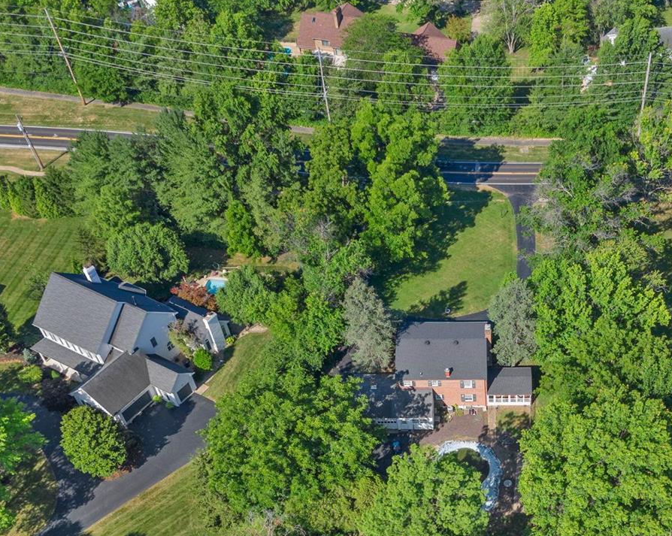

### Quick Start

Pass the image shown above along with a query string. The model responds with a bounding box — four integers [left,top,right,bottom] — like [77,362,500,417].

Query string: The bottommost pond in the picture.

[442,437,502,512]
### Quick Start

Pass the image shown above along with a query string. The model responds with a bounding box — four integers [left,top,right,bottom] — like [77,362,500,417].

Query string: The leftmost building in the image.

[27,261,235,426]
